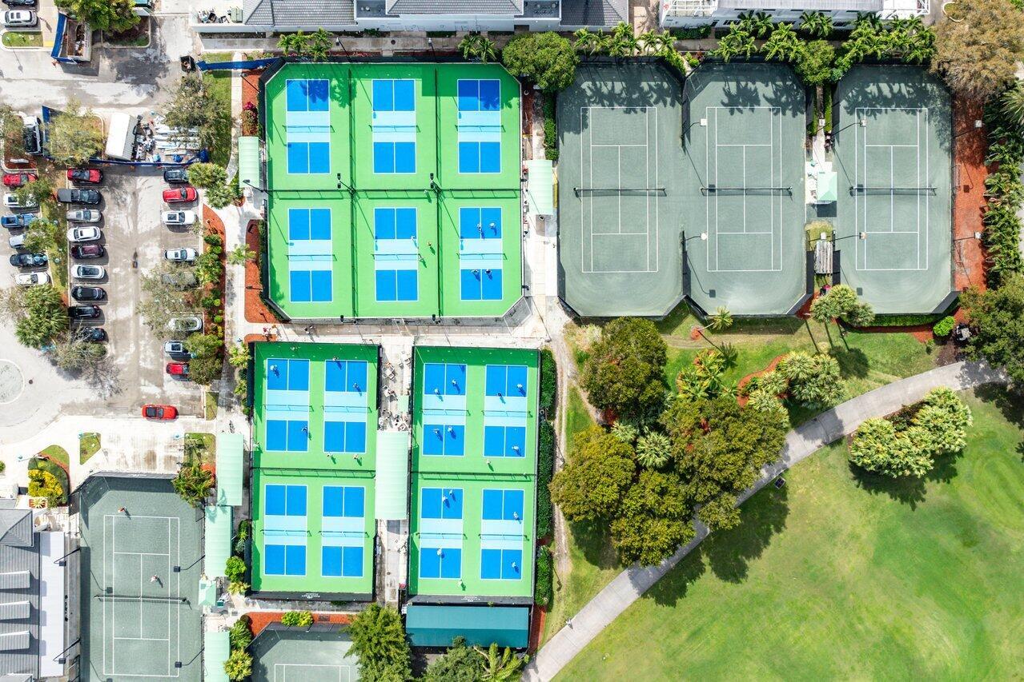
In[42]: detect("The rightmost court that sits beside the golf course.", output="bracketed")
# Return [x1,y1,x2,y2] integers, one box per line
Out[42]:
[834,65,951,313]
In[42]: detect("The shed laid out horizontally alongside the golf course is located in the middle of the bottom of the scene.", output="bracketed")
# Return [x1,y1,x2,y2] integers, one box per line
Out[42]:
[406,602,529,649]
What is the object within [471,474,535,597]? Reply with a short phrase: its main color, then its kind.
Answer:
green sports court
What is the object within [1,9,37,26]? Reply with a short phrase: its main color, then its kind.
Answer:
white car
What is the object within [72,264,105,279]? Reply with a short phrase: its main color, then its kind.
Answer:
white car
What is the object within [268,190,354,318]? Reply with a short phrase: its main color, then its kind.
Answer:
green sports court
